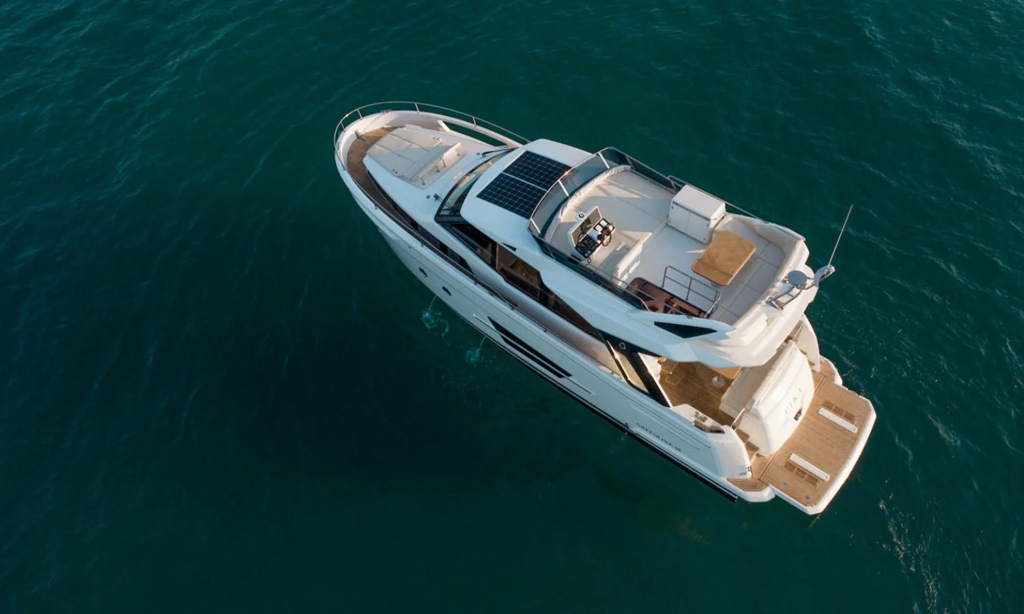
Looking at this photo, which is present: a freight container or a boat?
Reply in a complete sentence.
This aerial view contains a boat.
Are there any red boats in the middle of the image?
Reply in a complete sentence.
No, looking in the middle of the image, there is no red boat.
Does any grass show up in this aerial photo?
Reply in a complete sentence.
No, the scene doesn't show any grass.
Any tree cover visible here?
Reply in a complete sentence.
No, tree cover can't be seen anywhere here.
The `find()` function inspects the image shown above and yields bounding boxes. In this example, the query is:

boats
[333,100,877,516]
